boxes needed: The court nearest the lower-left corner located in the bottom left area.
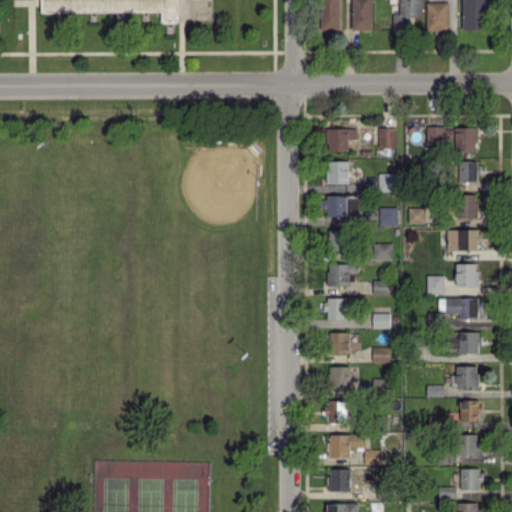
[102,478,130,512]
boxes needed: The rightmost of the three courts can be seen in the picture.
[172,478,200,512]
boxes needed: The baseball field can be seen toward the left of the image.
[0,120,266,440]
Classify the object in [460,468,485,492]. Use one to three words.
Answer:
house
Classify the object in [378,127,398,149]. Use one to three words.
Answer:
building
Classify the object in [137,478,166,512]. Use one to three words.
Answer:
tennis court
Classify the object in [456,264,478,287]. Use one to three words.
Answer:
house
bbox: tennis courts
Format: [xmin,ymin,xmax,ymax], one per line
[102,478,130,512]
[172,478,200,512]
[137,478,166,512]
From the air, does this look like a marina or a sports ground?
sports ground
